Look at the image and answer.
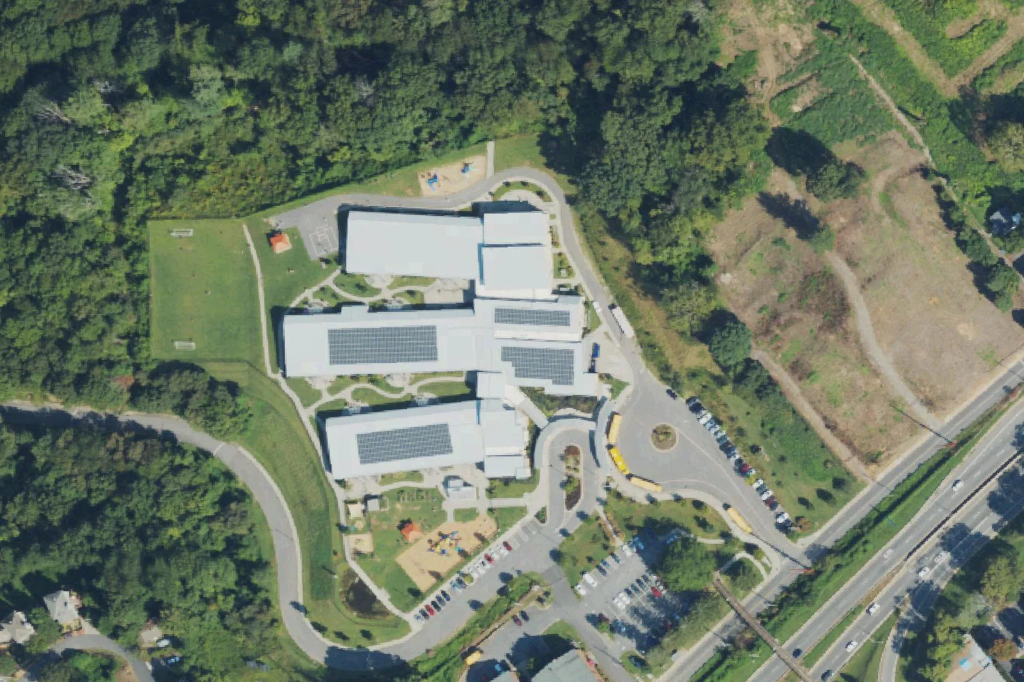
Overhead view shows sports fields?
Yes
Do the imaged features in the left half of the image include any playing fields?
Yes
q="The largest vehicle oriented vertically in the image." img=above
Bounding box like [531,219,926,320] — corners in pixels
[608,413,621,443]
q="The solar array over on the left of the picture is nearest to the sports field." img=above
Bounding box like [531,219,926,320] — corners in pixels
[328,326,438,364]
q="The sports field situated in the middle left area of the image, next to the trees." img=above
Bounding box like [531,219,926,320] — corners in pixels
[151,219,261,359]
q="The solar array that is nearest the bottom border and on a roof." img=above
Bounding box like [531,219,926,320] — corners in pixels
[357,423,453,464]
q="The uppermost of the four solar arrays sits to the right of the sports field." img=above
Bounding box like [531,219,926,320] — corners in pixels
[495,307,570,326]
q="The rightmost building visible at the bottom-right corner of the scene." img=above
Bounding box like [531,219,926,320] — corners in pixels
[949,634,1011,682]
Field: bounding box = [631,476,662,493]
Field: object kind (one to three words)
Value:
vehicle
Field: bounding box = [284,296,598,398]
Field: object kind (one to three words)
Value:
building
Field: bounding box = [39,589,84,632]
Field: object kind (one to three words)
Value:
house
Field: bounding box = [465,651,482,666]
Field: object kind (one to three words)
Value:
vehicle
